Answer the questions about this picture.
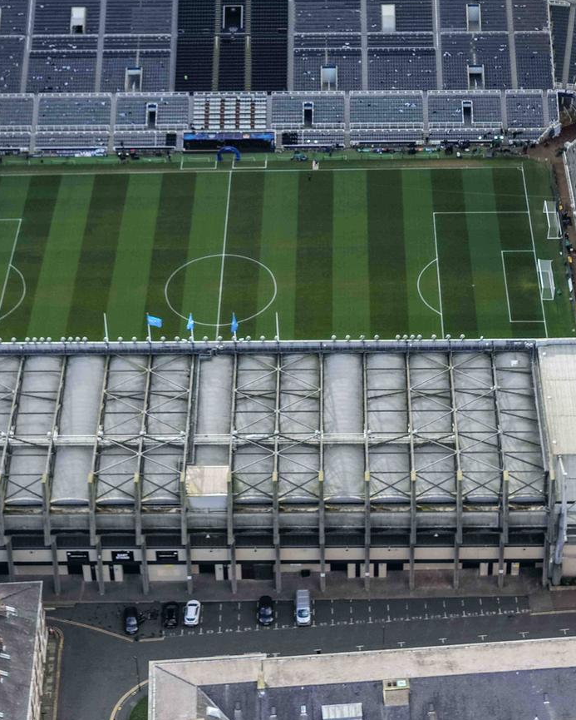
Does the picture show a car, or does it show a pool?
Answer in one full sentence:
Visible in the photo is a car.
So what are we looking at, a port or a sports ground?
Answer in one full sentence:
It's a sports ground.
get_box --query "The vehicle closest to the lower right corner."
[294,586,311,623]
